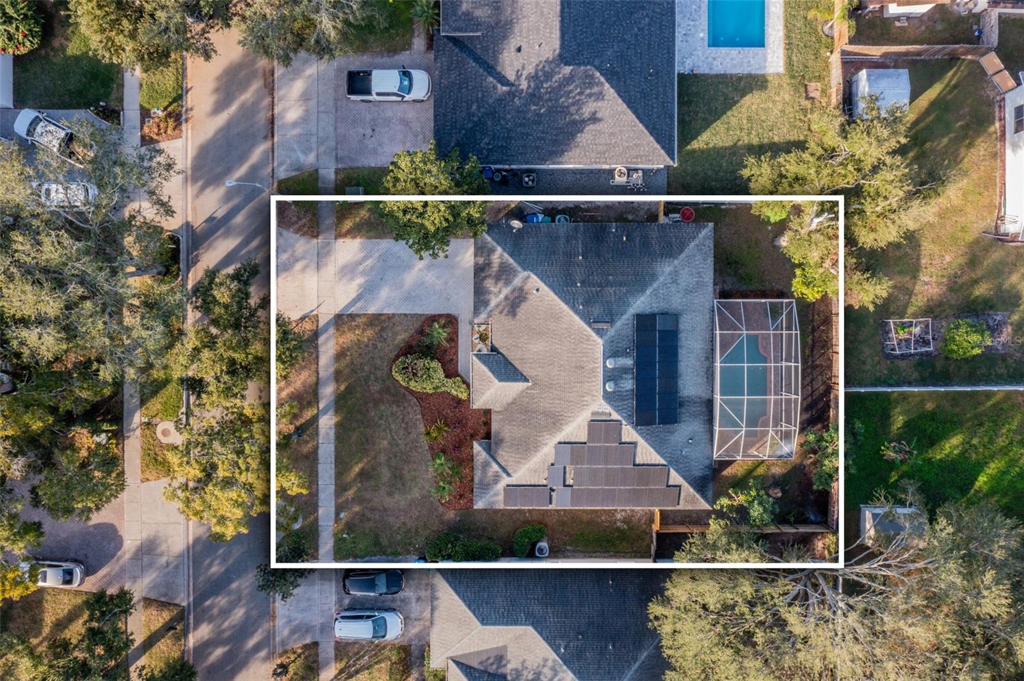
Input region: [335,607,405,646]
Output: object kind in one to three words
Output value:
car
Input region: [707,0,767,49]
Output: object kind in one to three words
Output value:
swimming pool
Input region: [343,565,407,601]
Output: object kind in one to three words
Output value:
car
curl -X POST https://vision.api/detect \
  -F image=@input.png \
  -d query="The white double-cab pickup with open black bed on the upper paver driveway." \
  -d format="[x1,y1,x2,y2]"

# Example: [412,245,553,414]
[345,64,431,104]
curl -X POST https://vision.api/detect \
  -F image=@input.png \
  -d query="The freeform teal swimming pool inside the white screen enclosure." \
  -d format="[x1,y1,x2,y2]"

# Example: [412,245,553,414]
[716,332,771,442]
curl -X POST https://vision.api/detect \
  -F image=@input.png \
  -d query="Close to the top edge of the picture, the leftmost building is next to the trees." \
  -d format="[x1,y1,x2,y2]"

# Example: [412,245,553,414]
[434,0,678,171]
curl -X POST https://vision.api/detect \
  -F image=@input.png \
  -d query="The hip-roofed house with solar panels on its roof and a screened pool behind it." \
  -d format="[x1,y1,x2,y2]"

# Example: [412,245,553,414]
[470,217,714,510]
